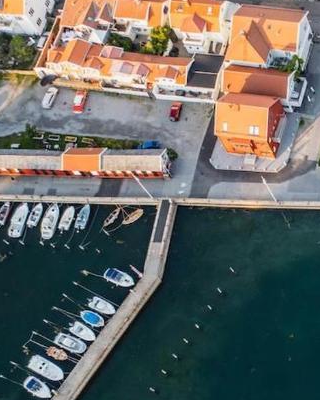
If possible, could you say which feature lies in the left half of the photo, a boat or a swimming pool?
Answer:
boat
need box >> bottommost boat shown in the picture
[19,376,54,399]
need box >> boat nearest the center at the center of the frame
[123,207,145,225]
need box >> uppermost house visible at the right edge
[219,8,316,76]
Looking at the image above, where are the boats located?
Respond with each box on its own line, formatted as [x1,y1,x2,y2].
[101,267,135,288]
[66,321,96,342]
[27,204,44,228]
[76,205,91,231]
[40,203,61,240]
[0,204,11,227]
[123,207,145,225]
[51,333,88,354]
[103,206,121,229]
[9,203,30,237]
[58,205,76,232]
[23,354,67,380]
[45,348,71,362]
[86,297,115,316]
[19,376,54,399]
[79,311,106,328]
